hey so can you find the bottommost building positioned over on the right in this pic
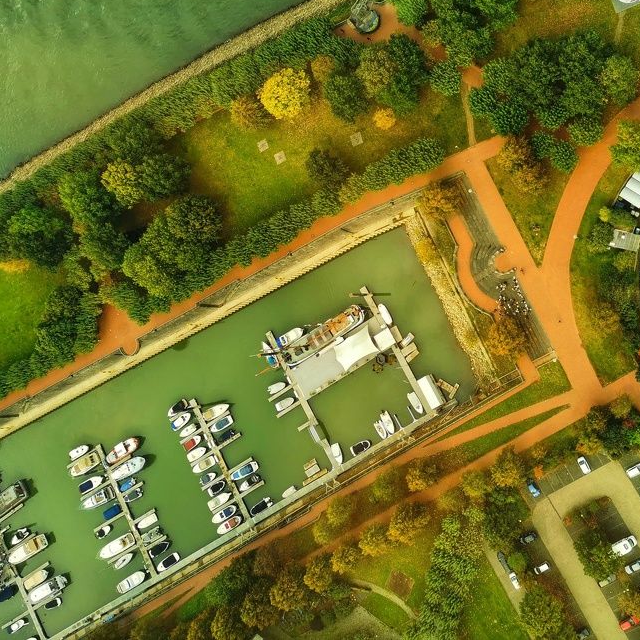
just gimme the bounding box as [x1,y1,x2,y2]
[416,373,448,409]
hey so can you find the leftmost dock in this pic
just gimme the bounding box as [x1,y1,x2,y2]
[0,479,64,640]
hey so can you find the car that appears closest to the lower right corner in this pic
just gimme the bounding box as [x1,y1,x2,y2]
[619,615,640,631]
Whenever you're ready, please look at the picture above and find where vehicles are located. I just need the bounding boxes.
[611,534,638,557]
[576,628,591,640]
[520,532,537,544]
[508,572,522,591]
[533,561,551,575]
[598,573,617,587]
[528,481,539,498]
[619,615,640,631]
[577,456,590,474]
[624,559,640,575]
[625,463,640,477]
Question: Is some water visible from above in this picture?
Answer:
Yes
